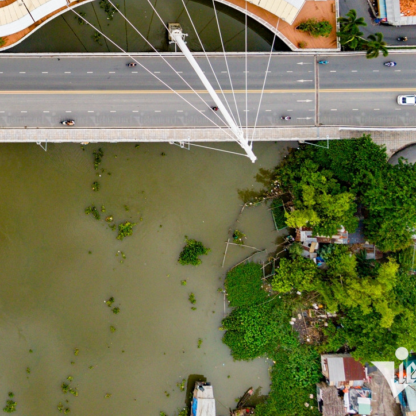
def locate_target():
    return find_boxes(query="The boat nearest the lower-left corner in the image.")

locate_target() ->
[193,380,216,416]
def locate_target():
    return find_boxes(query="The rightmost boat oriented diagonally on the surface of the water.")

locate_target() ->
[237,388,253,410]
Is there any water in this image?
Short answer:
Yes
